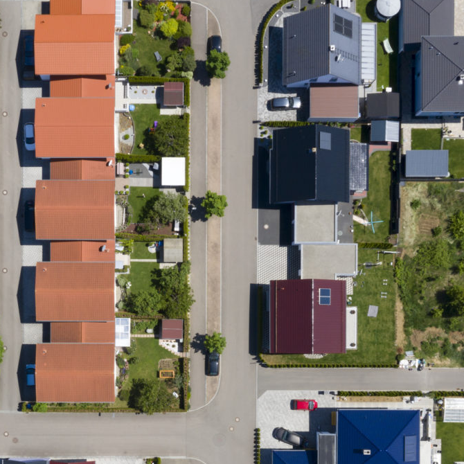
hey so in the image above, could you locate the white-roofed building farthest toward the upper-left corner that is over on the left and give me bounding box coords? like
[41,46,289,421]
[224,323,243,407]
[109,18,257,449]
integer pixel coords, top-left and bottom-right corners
[162,158,186,187]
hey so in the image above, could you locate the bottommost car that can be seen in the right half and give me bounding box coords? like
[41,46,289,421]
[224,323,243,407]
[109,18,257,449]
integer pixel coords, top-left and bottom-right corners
[275,426,304,446]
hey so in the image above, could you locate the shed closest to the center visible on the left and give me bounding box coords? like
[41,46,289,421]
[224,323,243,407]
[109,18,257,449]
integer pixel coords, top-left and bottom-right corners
[163,239,183,263]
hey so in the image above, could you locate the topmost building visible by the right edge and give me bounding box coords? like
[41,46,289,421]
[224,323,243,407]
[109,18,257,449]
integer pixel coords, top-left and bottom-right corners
[401,0,454,54]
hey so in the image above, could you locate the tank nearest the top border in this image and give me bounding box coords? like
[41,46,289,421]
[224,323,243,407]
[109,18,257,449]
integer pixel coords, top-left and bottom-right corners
[372,0,400,23]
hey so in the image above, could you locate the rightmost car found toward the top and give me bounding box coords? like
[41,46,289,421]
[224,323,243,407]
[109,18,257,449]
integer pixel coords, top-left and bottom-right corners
[268,96,299,110]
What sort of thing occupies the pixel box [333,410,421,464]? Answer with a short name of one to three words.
house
